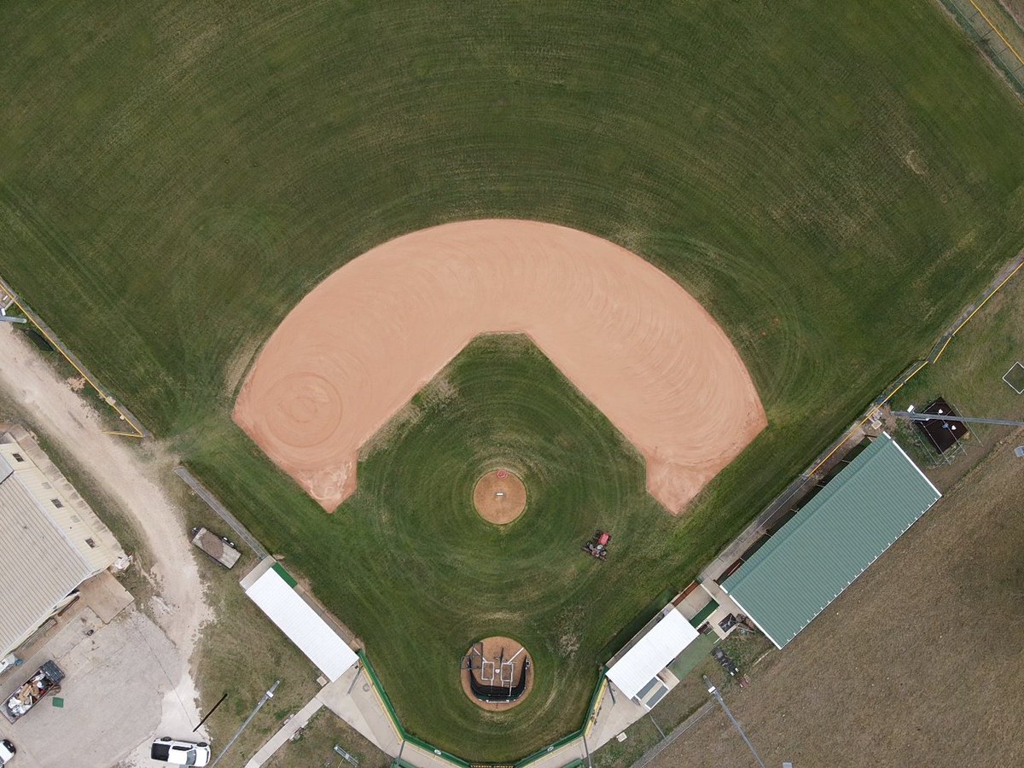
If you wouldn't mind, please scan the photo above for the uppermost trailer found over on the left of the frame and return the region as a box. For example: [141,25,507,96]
[185,527,239,571]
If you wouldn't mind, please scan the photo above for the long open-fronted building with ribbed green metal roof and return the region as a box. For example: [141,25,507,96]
[712,430,942,649]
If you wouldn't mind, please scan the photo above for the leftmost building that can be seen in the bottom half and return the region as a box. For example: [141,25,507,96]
[0,423,126,660]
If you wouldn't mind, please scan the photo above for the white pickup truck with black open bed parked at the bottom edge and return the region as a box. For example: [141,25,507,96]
[149,737,213,768]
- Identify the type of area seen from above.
sports ground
